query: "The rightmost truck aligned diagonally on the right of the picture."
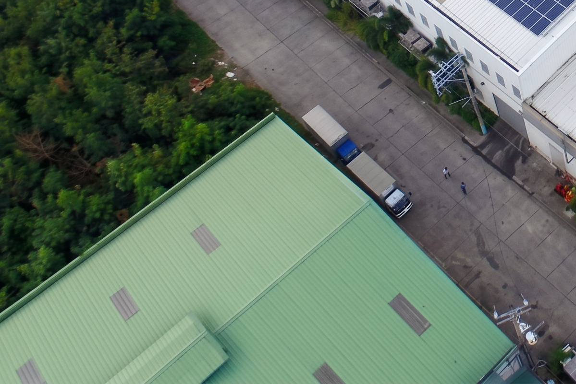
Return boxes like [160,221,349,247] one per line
[347,151,415,222]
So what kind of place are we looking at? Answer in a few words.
industrial area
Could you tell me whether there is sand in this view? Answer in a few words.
No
